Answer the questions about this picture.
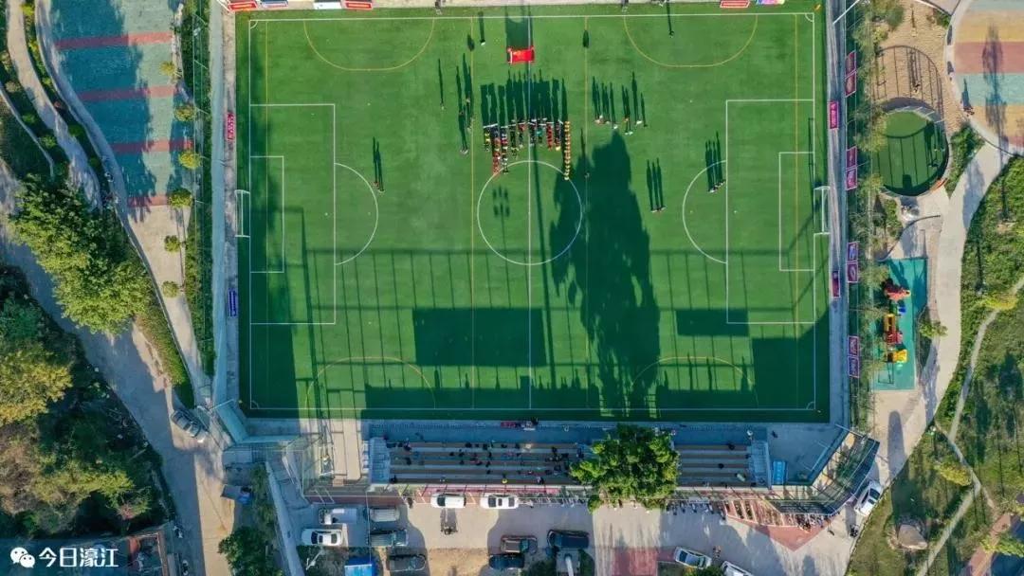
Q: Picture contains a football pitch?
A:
Yes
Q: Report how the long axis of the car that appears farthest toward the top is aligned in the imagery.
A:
on a diagonal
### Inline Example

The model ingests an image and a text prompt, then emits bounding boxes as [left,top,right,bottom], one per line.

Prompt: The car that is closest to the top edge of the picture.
[169,408,205,439]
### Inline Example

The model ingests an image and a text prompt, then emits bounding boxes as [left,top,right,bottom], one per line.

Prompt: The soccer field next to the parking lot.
[236,3,831,421]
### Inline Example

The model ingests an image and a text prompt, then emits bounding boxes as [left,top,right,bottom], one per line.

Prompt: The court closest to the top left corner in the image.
[51,0,199,206]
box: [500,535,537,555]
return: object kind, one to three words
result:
car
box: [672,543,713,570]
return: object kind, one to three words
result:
car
